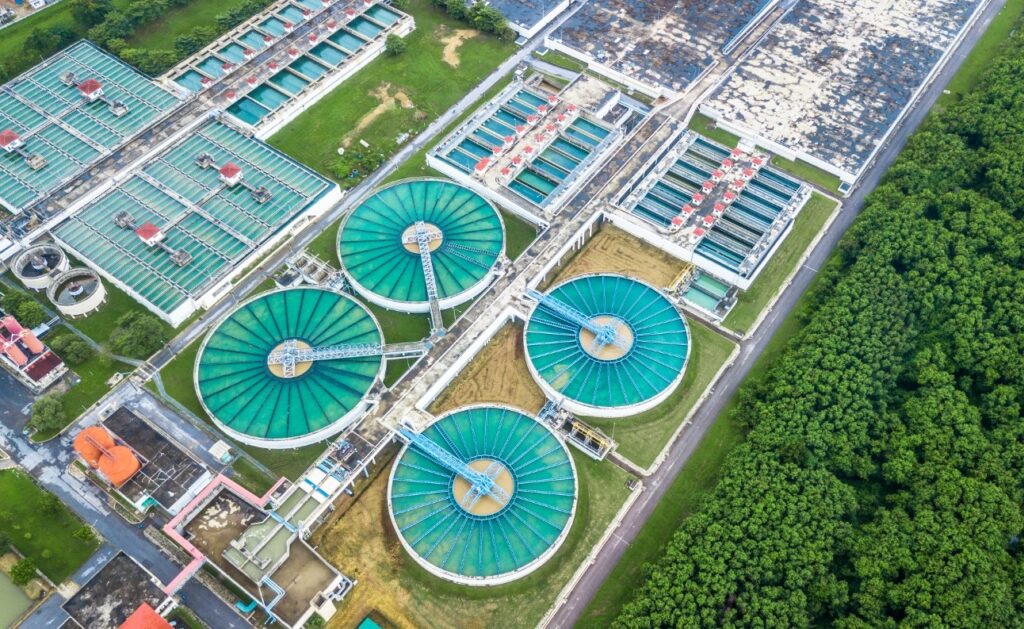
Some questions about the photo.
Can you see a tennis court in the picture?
No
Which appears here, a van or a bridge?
bridge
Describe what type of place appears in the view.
industrial area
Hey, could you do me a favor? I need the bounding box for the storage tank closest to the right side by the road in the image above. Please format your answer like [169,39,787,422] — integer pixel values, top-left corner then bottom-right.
[523,270,692,417]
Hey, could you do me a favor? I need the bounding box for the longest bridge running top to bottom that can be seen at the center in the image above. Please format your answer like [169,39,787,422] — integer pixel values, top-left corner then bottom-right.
[403,220,441,302]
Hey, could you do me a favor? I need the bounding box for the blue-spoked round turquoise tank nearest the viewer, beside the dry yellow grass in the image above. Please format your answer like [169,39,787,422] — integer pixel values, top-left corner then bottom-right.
[387,403,578,584]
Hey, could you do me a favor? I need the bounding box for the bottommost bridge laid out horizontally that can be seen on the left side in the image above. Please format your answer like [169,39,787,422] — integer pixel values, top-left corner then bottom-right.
[267,338,386,376]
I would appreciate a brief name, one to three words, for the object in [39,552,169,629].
building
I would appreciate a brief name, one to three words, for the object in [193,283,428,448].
storage tank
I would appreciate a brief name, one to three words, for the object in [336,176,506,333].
storage tank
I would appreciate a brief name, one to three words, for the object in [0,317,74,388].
house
